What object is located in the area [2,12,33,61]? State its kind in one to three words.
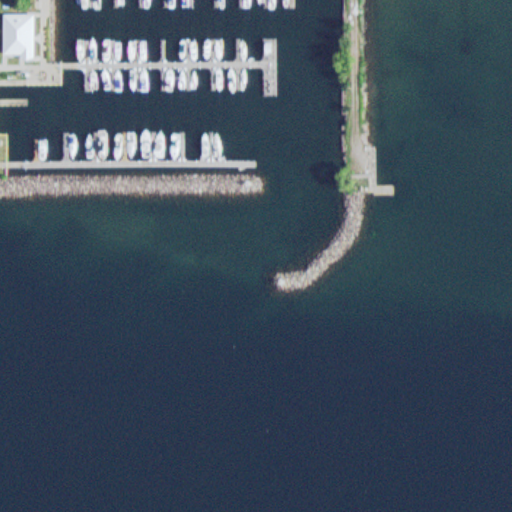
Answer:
building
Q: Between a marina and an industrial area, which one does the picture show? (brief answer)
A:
marina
